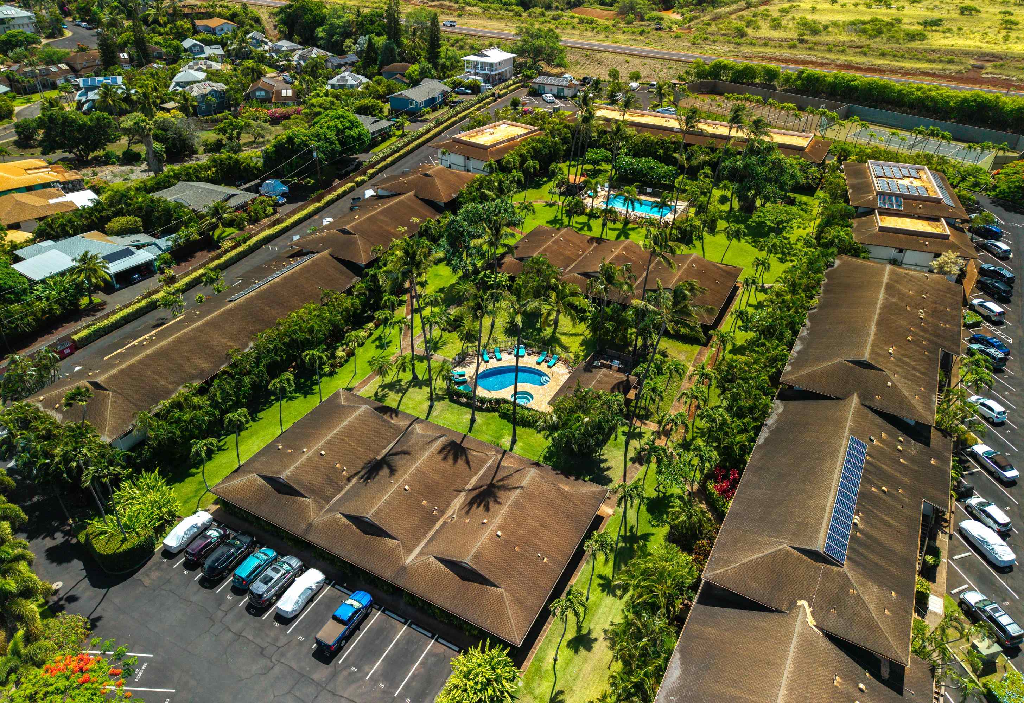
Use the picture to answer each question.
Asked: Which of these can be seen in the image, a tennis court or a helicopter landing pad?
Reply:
tennis court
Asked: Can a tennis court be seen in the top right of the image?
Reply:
Yes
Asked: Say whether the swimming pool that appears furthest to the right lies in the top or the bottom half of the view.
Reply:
top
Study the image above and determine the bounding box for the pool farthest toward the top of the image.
[581,187,685,224]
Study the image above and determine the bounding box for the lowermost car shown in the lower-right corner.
[957,591,1024,648]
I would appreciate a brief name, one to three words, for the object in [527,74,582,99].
house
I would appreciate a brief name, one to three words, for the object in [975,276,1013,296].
car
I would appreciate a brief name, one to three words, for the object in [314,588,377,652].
truck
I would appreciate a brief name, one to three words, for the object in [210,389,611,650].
building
